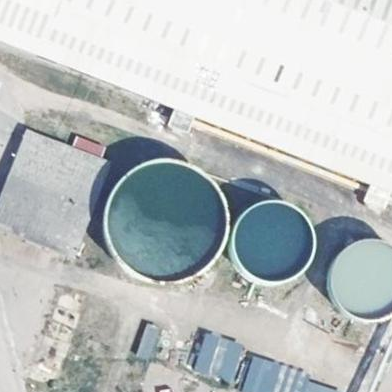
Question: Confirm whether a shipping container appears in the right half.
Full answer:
No, I can find no shipping container in the right half.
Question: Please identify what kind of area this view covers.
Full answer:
This image shows an industrial area.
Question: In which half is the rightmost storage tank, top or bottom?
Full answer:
It is in the bottom half that the rightmost storage tank appears.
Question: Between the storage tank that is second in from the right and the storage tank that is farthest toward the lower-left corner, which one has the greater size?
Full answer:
Of the two, the storage tank that is farthest toward the lower-left corner is bigger, while the storage tank that is second in from the right is smaller.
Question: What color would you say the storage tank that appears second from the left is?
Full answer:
In this view, the storage tank that appears second from the left is blue.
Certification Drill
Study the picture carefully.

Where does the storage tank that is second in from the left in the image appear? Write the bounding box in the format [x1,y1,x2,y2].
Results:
[228,200,316,285]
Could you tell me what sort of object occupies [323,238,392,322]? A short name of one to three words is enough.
storage tank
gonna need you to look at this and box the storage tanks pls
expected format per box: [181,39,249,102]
[101,158,230,286]
[323,238,392,322]
[228,200,316,285]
